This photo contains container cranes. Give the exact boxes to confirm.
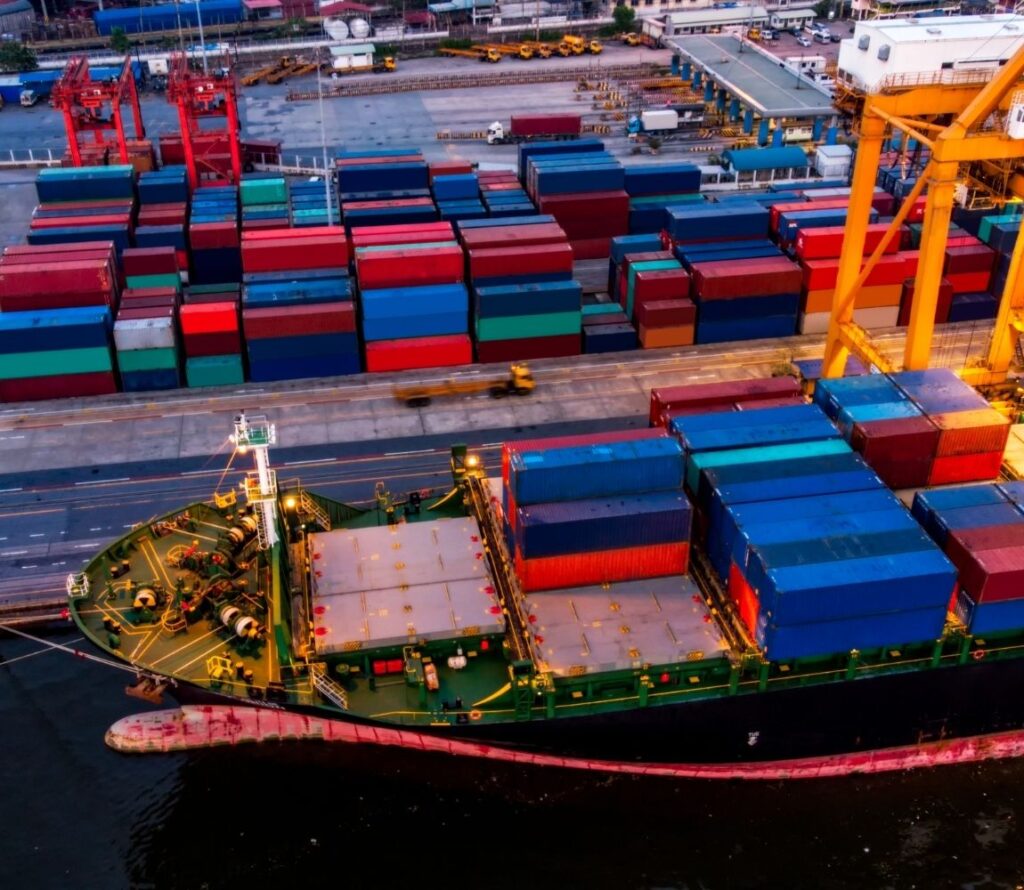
[160,49,240,192]
[49,50,143,169]
[804,0,1024,409]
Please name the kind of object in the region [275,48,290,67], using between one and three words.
vehicle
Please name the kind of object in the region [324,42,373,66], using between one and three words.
shed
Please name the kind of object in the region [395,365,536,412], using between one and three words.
truck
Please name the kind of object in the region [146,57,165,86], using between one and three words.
vehicle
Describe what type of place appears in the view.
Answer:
port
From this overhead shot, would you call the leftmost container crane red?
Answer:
Yes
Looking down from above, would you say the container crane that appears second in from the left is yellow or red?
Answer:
red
